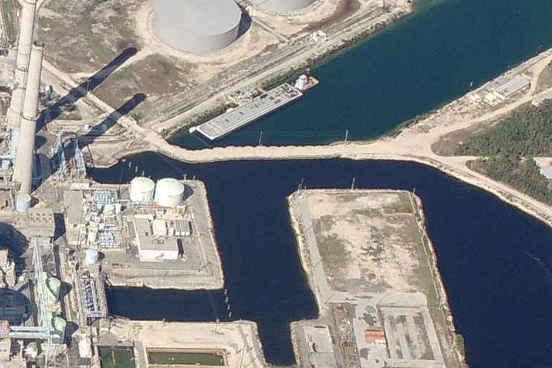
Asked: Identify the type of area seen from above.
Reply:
port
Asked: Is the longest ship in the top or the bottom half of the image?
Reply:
top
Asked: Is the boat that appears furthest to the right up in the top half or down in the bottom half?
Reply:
top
